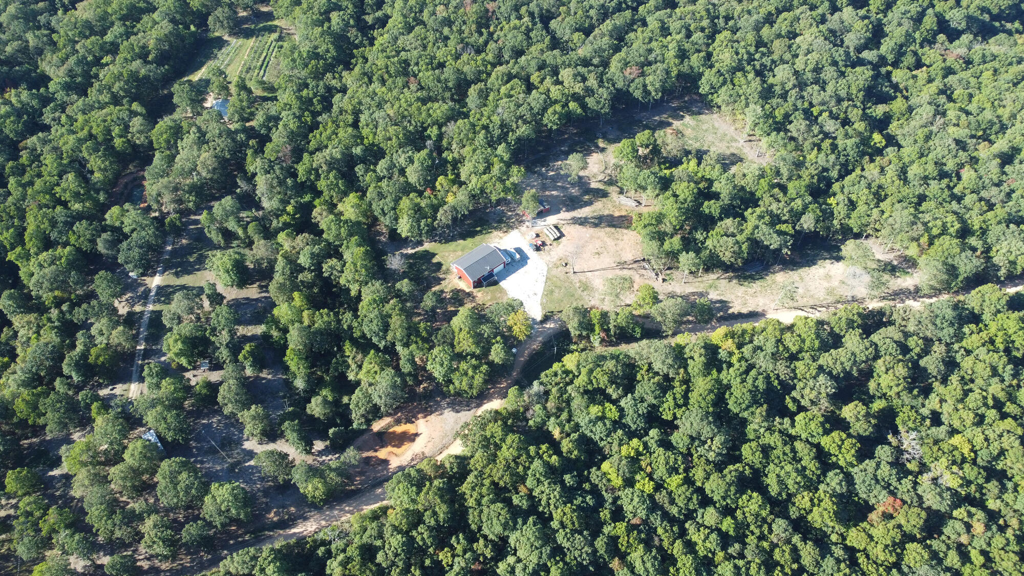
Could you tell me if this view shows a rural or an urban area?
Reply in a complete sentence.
The area is rural.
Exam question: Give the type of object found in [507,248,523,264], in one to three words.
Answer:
vehicle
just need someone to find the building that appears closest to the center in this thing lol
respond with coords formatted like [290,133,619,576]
[450,243,507,289]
